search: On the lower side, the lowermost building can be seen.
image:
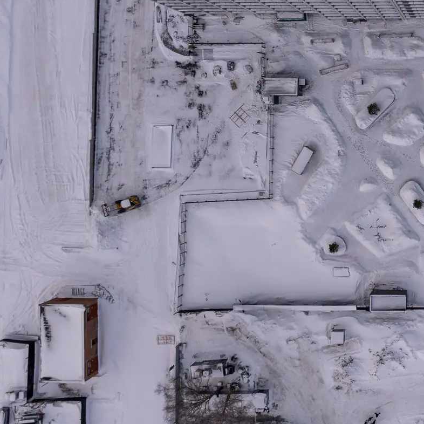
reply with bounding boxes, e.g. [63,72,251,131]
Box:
[250,388,270,409]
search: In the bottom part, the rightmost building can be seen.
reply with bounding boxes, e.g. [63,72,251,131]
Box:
[370,290,408,312]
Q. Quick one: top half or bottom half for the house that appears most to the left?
bottom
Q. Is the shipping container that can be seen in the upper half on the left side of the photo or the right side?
right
